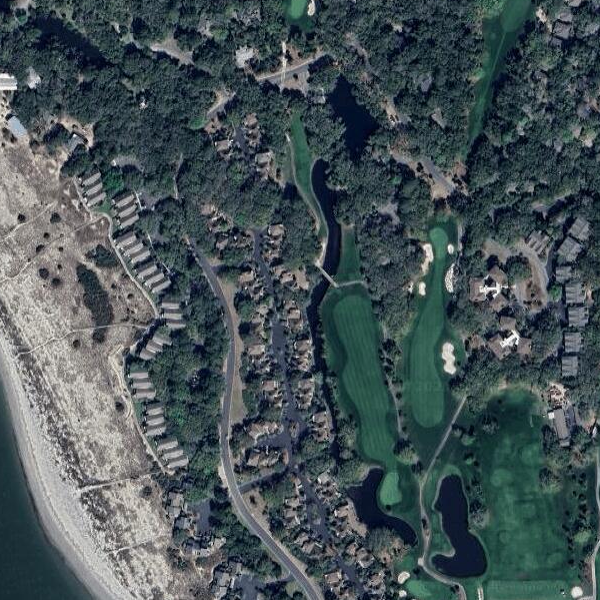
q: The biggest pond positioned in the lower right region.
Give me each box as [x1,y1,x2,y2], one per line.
[433,474,486,576]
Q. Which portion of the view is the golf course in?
right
